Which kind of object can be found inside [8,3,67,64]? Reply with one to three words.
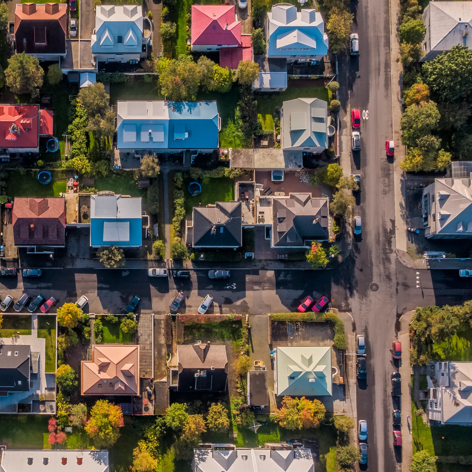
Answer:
house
